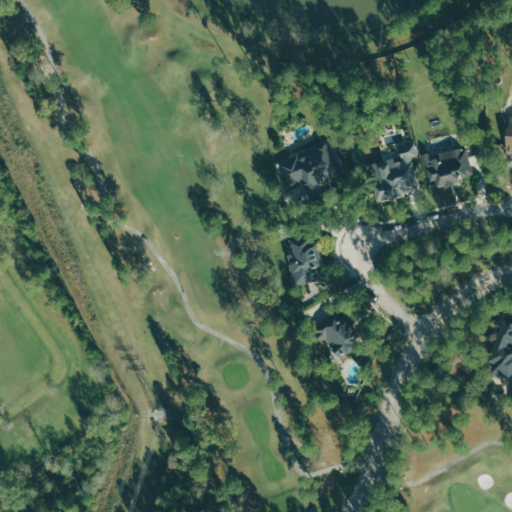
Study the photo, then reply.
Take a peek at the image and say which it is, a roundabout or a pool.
pool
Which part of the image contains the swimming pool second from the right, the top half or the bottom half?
top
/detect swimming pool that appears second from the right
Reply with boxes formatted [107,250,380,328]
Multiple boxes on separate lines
[380,125,406,152]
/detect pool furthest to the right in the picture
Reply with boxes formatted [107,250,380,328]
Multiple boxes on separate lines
[425,134,458,153]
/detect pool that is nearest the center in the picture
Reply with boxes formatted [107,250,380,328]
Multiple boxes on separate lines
[282,124,312,148]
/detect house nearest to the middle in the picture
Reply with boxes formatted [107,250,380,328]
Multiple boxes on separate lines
[288,239,323,286]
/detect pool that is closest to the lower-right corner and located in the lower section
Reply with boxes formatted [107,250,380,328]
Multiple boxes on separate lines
[343,358,362,386]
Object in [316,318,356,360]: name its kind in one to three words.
house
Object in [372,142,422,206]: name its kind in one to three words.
house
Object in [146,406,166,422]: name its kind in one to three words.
pylon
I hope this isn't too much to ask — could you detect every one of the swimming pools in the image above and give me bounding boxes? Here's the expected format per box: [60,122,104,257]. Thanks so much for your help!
[282,124,312,148]
[425,134,458,153]
[343,358,362,386]
[380,125,406,152]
